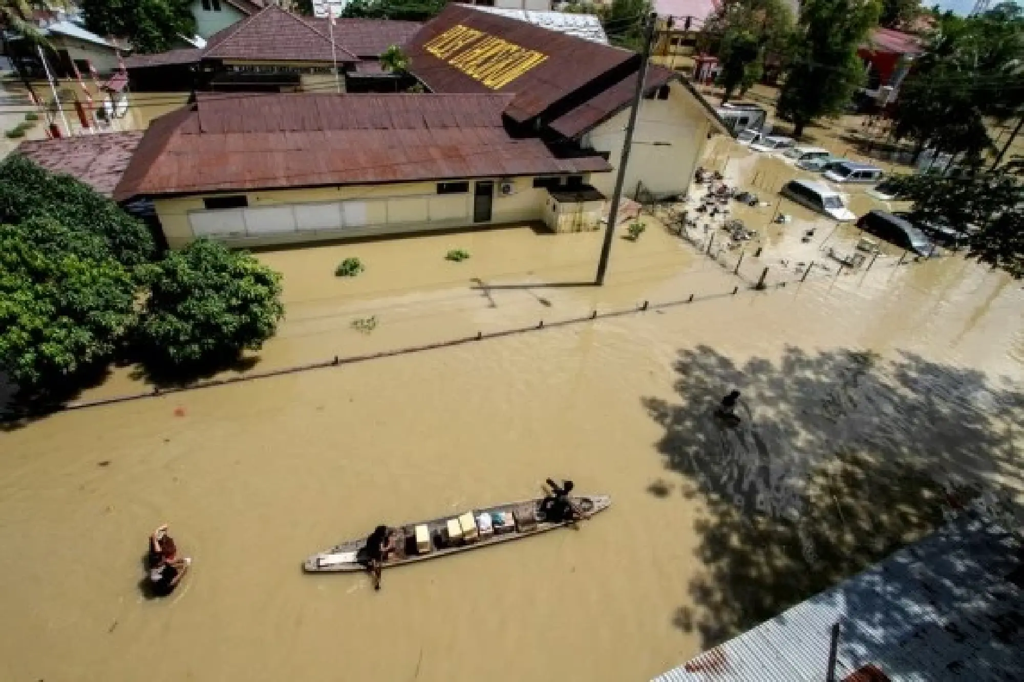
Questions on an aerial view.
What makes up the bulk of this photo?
water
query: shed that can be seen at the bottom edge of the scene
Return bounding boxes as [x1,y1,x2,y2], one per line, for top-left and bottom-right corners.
[656,478,1024,682]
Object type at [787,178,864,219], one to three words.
vehicle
